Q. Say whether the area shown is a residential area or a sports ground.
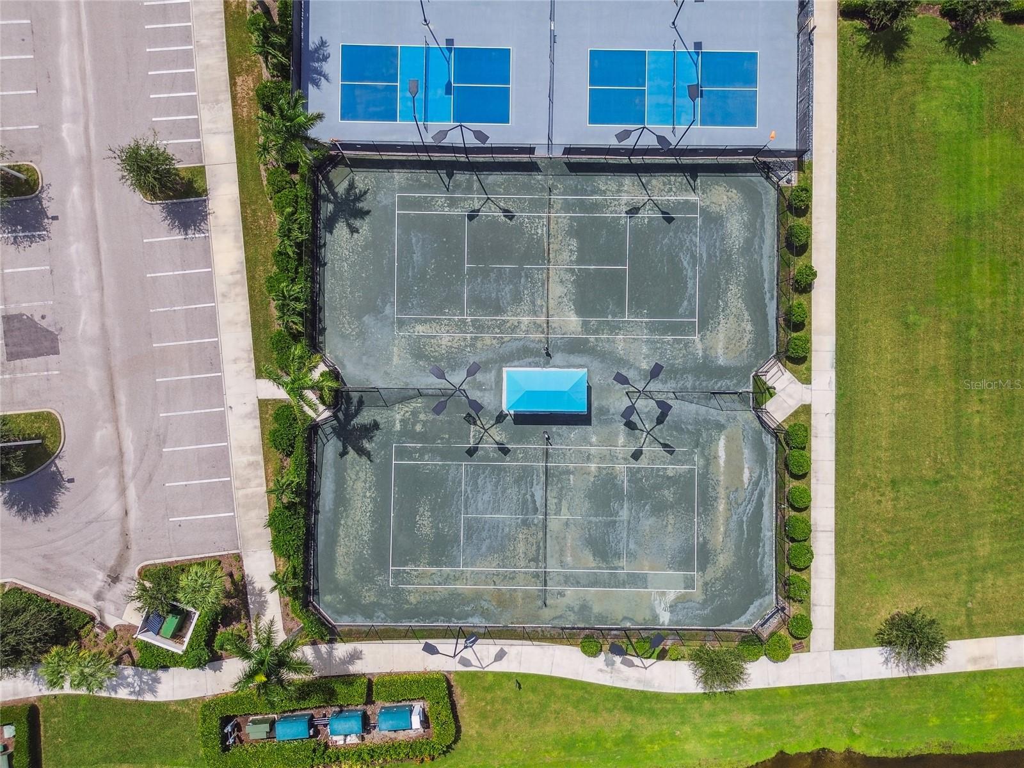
sports ground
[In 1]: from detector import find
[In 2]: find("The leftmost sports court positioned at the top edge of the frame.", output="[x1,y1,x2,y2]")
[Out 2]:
[302,0,551,156]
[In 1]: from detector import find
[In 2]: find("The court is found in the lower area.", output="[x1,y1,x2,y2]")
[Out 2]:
[313,390,777,629]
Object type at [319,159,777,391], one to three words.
tennis court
